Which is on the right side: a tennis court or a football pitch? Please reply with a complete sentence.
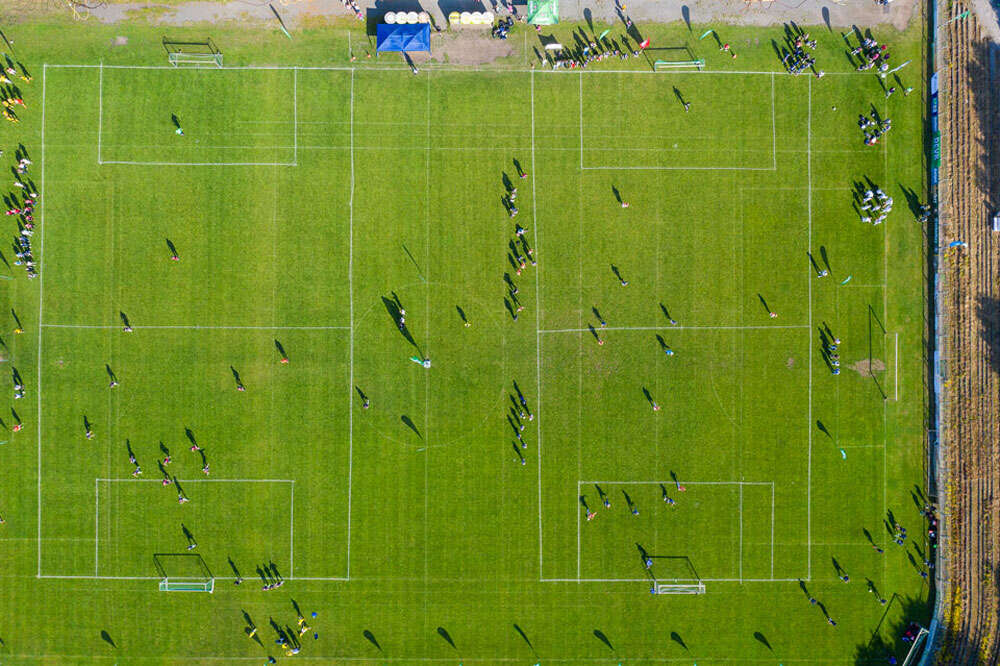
There is a football pitch on the right side.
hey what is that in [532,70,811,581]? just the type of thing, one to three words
soccer field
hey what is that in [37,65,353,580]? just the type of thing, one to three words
soccer field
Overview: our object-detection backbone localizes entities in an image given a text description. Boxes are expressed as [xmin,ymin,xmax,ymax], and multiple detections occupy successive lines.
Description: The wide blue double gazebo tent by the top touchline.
[377,23,432,58]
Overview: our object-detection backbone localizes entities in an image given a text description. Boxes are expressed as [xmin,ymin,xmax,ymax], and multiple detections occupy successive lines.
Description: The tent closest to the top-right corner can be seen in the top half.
[527,0,559,31]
